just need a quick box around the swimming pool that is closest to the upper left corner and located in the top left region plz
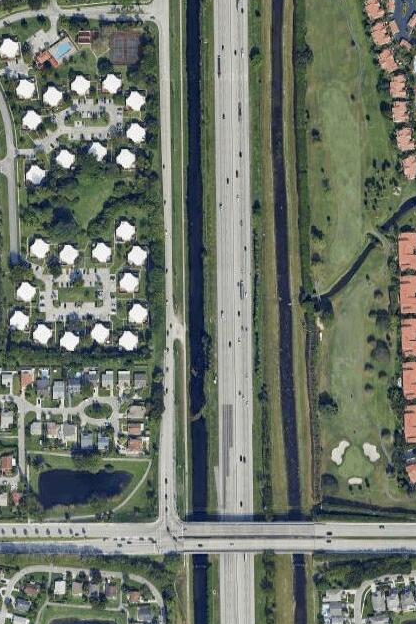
[49,37,74,61]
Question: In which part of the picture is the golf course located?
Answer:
right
